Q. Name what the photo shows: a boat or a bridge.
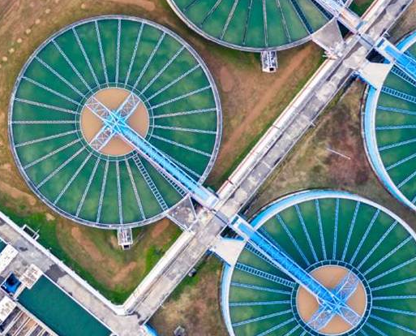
bridge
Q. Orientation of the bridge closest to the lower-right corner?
at an angle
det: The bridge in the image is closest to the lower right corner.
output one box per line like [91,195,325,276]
[227,214,353,319]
